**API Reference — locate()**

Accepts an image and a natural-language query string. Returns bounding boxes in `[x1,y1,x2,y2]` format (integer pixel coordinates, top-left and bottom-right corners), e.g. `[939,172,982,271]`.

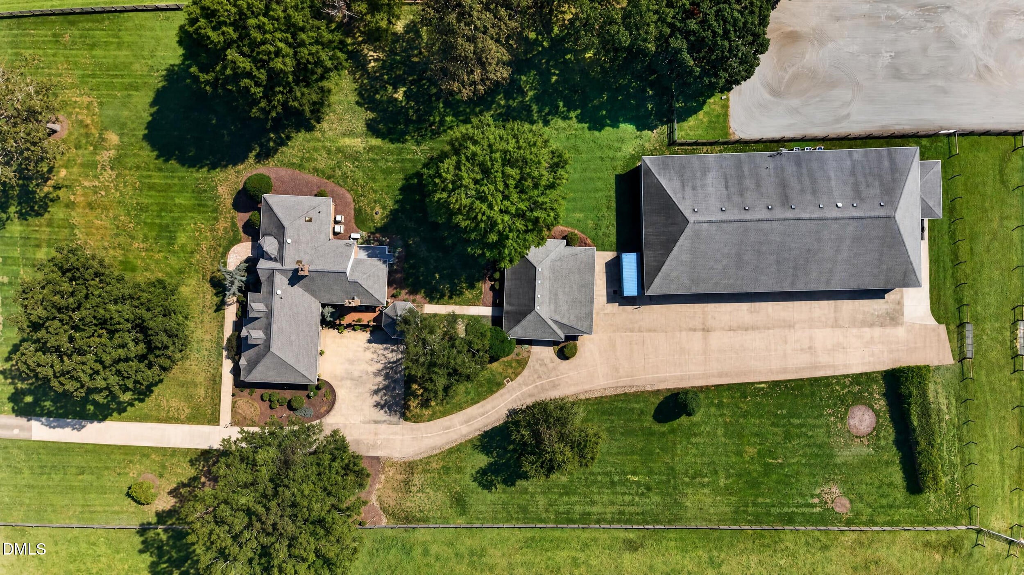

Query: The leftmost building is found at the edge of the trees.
[239,194,394,384]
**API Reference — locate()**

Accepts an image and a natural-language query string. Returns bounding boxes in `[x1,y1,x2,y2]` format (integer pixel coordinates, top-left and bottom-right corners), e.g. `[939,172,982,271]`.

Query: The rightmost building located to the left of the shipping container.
[503,239,597,341]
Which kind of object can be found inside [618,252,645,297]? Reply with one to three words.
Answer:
shipping container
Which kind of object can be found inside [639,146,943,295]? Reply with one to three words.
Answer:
barn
